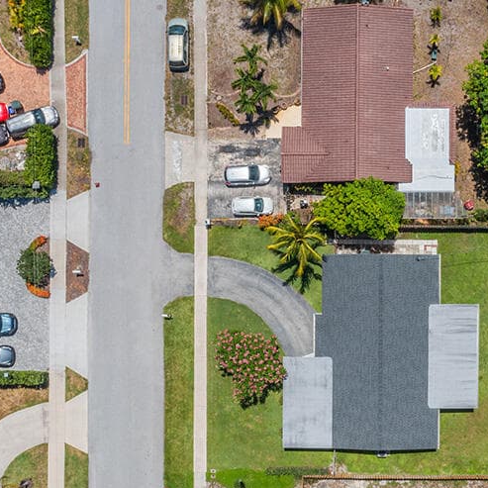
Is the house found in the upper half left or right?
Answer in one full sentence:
You can find the house found in the upper half on the right side of the picture.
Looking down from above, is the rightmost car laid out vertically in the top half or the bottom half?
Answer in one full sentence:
You can find the rightmost car laid out vertically in the top half.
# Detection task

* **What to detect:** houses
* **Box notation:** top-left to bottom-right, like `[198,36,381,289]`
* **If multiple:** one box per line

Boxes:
[280,1,467,222]
[282,253,480,458]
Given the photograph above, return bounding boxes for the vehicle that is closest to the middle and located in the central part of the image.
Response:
[231,193,275,217]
